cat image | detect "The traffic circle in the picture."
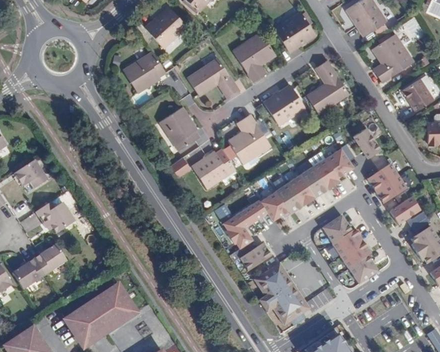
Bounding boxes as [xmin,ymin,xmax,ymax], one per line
[22,18,98,94]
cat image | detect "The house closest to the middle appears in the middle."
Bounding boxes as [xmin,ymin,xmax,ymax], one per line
[194,144,238,190]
